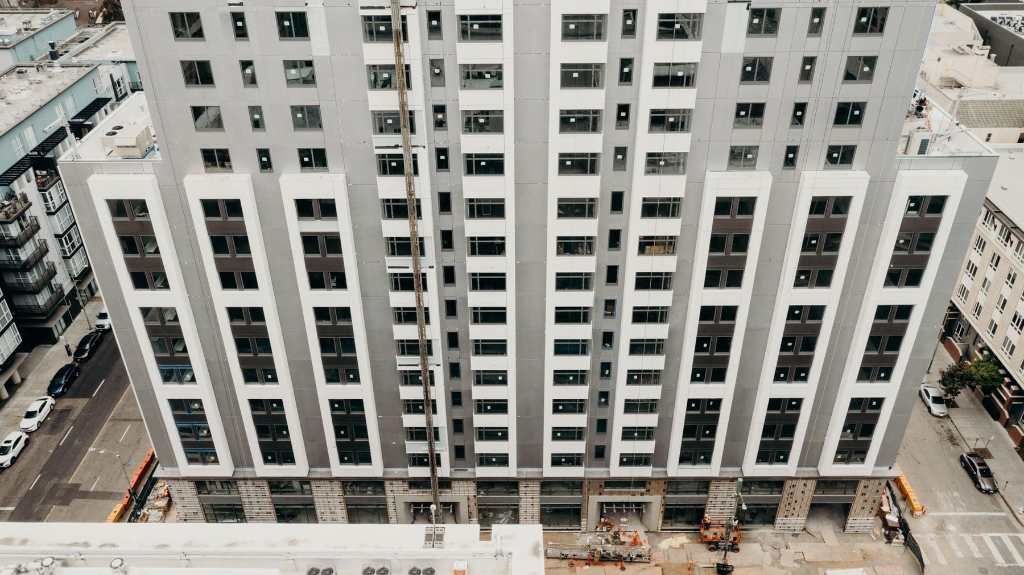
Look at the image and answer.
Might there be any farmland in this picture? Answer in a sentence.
No, there is no farmland in the image.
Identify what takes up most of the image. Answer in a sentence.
What you mostly see from above here is buildings.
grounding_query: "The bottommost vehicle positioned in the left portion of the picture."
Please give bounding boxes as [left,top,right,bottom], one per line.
[0,432,32,465]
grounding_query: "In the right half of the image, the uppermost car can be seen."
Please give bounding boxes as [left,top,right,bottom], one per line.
[918,385,949,418]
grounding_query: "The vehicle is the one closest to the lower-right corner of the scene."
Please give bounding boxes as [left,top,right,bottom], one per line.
[961,455,1000,495]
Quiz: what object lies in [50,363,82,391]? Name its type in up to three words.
car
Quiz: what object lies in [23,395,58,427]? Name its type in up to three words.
car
